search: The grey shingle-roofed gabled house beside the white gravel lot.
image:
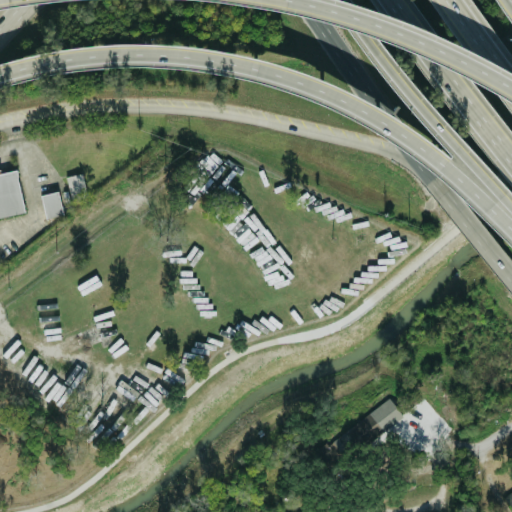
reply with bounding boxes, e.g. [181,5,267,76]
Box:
[370,399,402,432]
